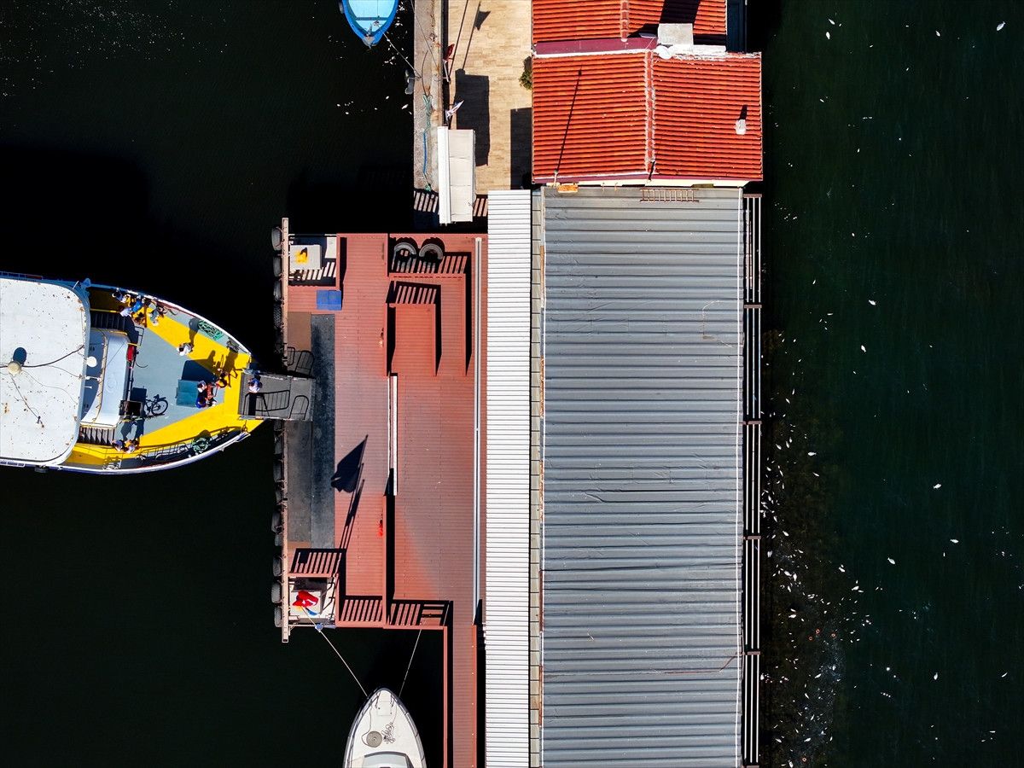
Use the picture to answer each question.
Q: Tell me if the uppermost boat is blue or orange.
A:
blue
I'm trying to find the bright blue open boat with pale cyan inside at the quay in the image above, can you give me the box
[338,0,398,50]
